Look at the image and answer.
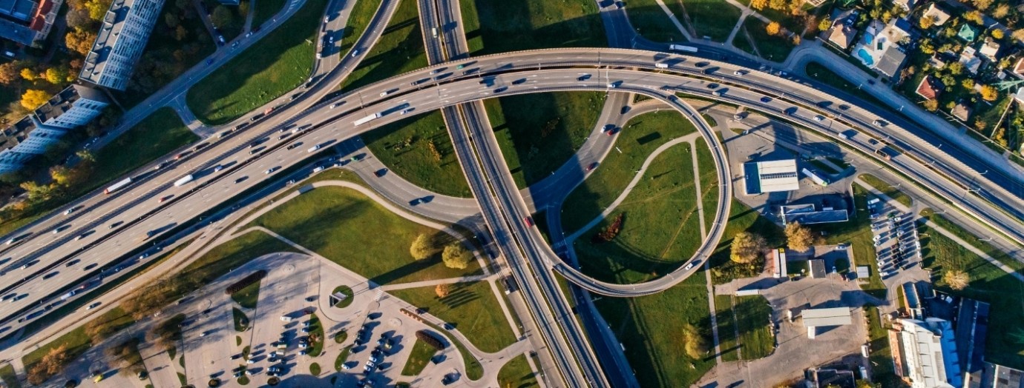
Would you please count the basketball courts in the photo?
0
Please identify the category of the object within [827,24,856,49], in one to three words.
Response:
house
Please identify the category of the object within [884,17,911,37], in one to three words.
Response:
building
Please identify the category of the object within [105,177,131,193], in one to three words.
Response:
vehicle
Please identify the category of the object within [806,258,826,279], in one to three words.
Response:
shed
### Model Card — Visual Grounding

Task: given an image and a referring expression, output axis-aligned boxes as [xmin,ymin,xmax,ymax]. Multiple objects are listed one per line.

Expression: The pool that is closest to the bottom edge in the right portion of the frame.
[858,48,874,65]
